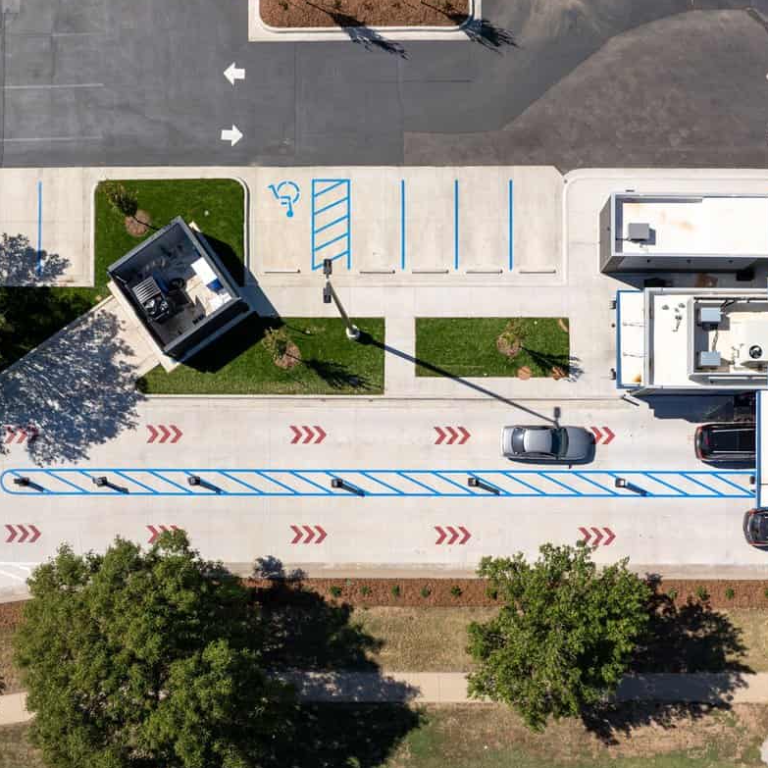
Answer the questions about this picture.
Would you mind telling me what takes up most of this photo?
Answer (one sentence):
The bulk of the photo consists of paved ground.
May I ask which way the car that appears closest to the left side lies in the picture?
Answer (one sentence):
The car that appears closest to the left side is oriented from left to right.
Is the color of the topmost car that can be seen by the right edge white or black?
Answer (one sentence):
The topmost car that can be seen by the right edge looks black in the image.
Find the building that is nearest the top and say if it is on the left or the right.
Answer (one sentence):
The building that is nearest the top appears in the right half of the scene.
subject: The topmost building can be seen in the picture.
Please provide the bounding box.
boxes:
[599,193,768,274]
